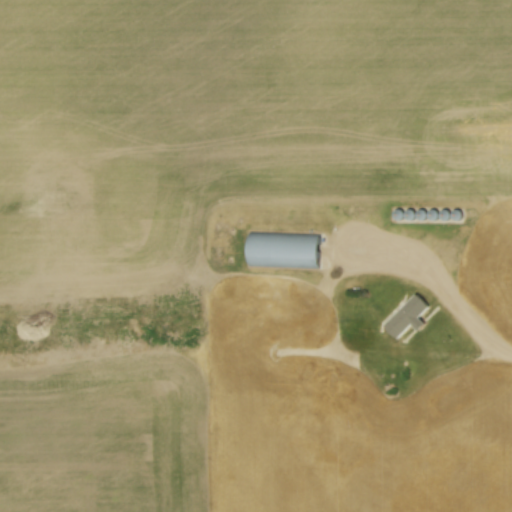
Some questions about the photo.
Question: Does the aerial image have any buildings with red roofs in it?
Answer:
No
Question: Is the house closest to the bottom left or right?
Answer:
right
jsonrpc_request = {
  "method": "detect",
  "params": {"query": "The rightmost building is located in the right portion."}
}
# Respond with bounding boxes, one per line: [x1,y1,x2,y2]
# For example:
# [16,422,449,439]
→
[385,293,430,340]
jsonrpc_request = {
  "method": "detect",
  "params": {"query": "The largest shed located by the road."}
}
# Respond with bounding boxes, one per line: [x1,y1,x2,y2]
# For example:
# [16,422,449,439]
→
[245,232,321,269]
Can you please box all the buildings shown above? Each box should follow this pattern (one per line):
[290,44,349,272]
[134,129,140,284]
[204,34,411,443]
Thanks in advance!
[385,293,430,340]
[245,232,321,269]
